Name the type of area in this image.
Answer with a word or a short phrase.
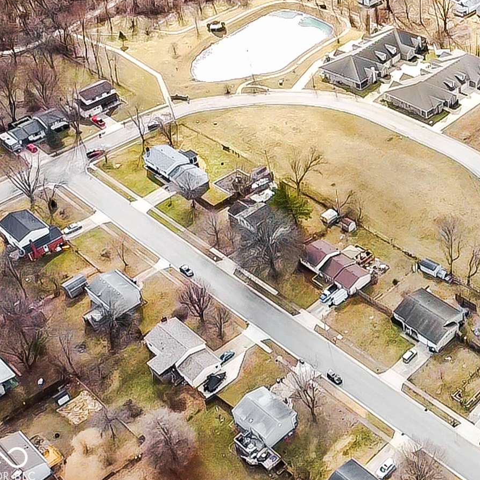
residential area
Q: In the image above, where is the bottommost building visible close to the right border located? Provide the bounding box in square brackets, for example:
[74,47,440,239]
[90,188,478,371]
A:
[392,290,467,351]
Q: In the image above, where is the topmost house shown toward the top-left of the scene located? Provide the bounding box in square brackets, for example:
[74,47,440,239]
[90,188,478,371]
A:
[76,80,120,121]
